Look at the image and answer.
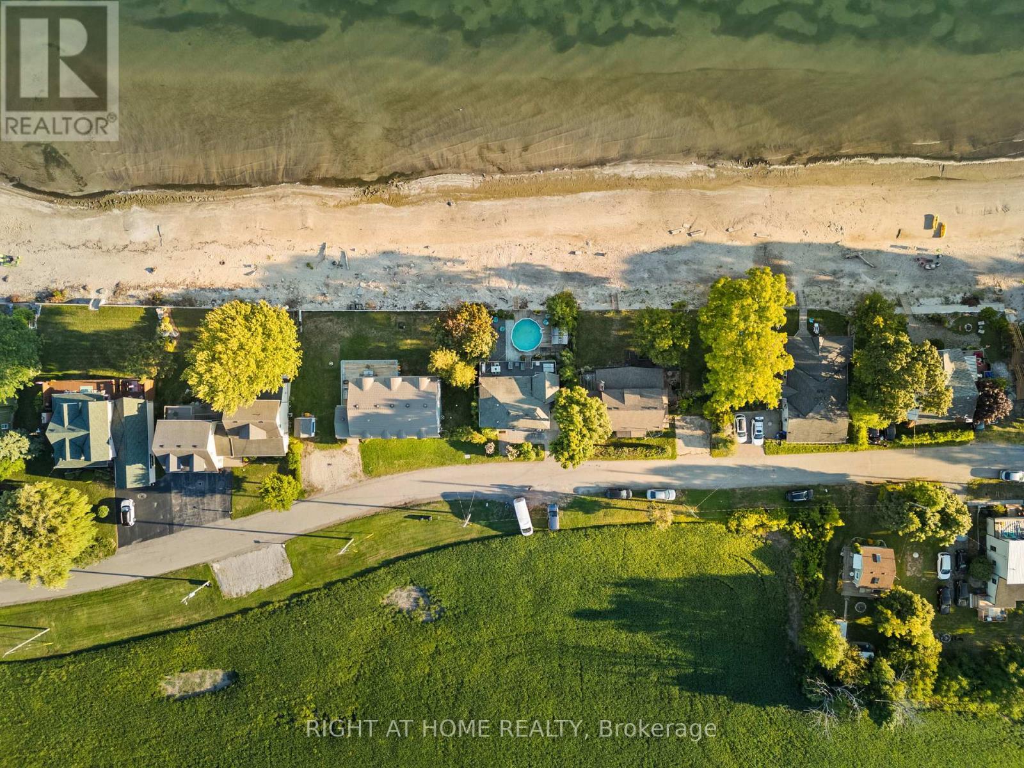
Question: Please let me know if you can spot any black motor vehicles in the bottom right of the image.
Yes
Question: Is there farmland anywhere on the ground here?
Yes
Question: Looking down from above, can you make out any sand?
Yes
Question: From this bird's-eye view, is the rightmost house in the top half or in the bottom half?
bottom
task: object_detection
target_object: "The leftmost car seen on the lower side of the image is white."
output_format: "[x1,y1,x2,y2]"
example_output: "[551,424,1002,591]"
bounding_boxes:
[120,499,136,527]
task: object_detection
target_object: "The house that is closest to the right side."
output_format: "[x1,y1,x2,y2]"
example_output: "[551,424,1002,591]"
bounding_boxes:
[982,514,1024,608]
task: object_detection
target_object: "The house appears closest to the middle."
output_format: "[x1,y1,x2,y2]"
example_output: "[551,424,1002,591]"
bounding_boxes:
[478,369,560,429]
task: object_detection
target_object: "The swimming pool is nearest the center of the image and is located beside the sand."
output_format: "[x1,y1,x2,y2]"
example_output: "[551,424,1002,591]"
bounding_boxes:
[511,318,545,352]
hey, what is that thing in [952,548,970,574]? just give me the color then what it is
black car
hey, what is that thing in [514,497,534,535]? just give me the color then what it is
white vehicle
